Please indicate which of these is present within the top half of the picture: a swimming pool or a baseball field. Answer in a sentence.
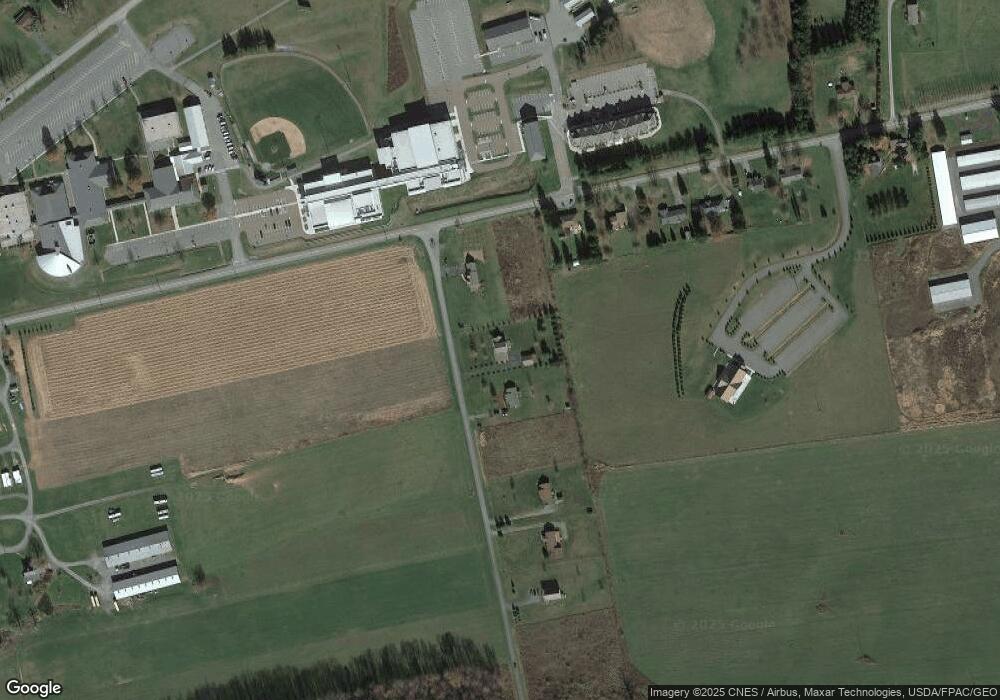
What appears within the top half of the picture is a baseball field.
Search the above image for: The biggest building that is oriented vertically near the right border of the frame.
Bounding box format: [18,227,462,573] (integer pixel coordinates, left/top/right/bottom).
[932,149,958,226]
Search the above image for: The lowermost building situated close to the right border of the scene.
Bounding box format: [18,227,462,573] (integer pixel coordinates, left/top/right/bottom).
[930,279,974,304]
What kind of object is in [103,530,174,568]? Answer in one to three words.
barn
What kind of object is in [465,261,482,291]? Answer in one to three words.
house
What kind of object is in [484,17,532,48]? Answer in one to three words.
building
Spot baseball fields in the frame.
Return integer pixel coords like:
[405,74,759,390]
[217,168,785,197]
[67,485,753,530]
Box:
[220,51,373,173]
